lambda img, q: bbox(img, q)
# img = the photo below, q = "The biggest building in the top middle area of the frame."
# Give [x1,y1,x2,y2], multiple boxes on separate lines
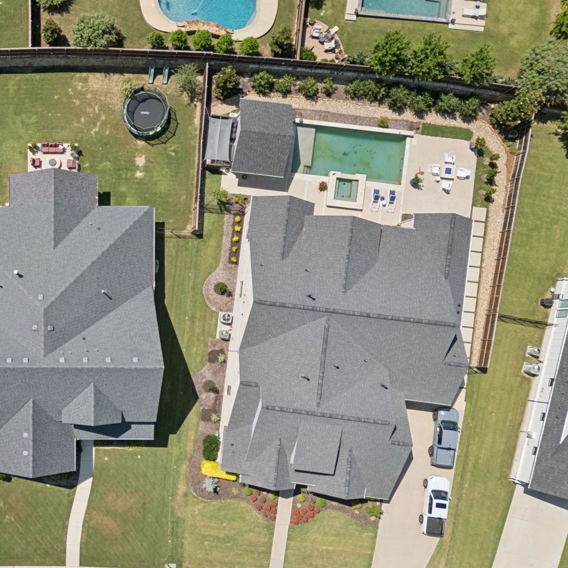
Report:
[227,97,293,179]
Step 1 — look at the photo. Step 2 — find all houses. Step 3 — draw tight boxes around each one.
[0,168,164,479]
[503,278,568,498]
[218,195,473,500]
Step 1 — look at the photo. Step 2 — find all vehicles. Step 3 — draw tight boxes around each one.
[427,405,460,471]
[418,473,453,540]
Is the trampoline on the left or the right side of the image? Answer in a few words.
left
